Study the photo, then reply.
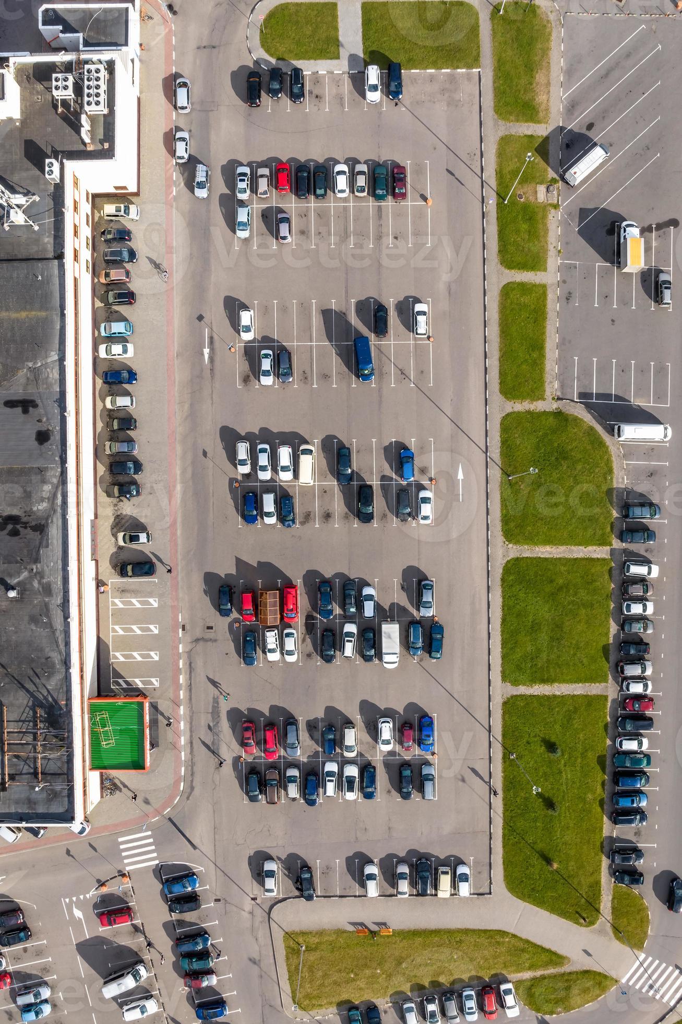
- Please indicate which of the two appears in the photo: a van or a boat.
van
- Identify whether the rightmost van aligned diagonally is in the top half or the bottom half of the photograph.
top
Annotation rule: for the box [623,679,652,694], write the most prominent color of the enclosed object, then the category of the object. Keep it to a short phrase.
white car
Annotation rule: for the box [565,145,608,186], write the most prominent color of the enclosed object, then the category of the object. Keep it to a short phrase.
white van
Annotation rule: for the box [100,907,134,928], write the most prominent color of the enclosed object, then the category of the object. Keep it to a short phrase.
red car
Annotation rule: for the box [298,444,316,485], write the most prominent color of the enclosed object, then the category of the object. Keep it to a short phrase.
white vehicle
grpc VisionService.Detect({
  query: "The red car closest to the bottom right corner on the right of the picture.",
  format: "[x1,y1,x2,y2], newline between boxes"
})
[480,984,500,1020]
